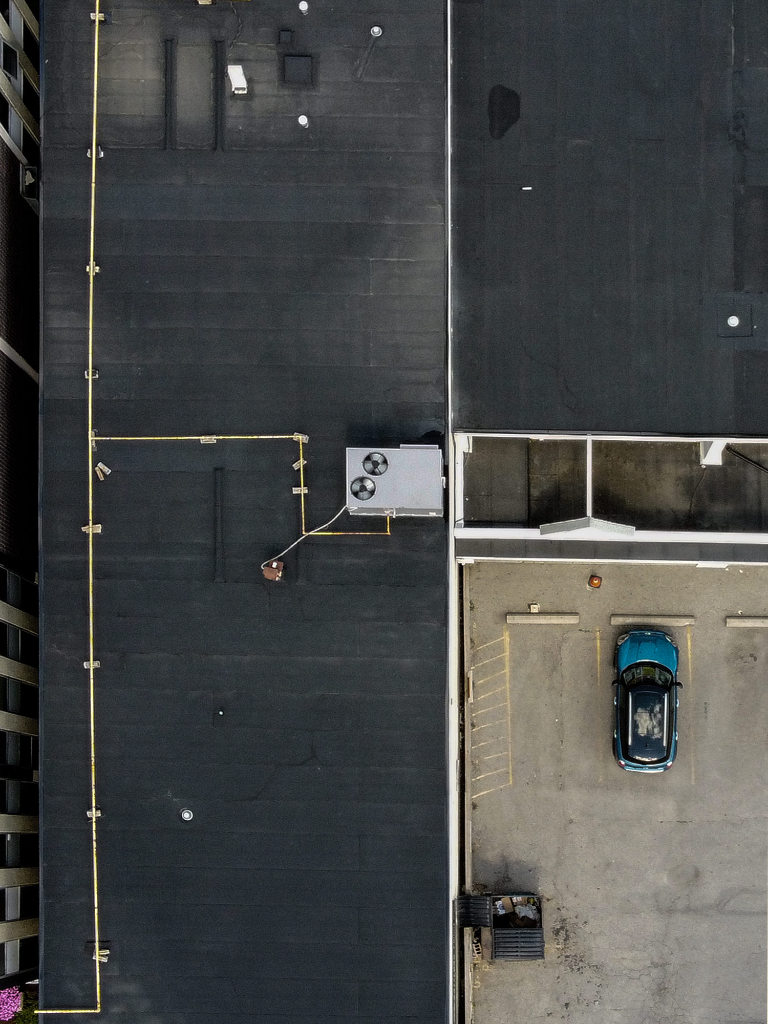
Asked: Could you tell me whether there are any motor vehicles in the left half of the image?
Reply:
No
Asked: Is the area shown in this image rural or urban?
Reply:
urban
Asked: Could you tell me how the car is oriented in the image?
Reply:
from top to bottom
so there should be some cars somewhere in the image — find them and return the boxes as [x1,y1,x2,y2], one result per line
[612,630,683,774]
